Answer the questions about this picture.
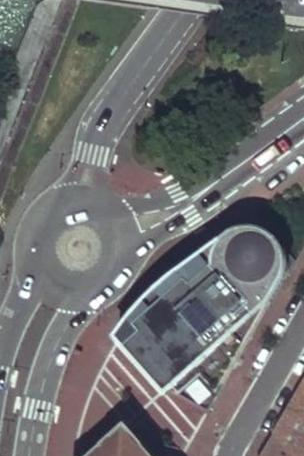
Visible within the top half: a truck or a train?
truck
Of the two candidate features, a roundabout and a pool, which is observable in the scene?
roundabout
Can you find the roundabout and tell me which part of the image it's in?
left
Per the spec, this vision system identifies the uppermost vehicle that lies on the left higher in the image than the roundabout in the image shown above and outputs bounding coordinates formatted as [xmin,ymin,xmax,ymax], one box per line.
[96,106,113,131]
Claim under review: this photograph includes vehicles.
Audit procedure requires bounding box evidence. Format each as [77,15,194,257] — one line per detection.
[135,238,157,258]
[200,190,222,208]
[18,275,36,300]
[68,310,90,329]
[270,316,290,337]
[283,156,304,174]
[249,134,296,173]
[111,265,134,288]
[66,212,89,224]
[86,284,115,312]
[54,343,70,367]
[252,346,270,370]
[261,410,278,432]
[284,295,302,316]
[96,106,113,131]
[265,171,288,190]
[290,354,304,378]
[166,213,186,231]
